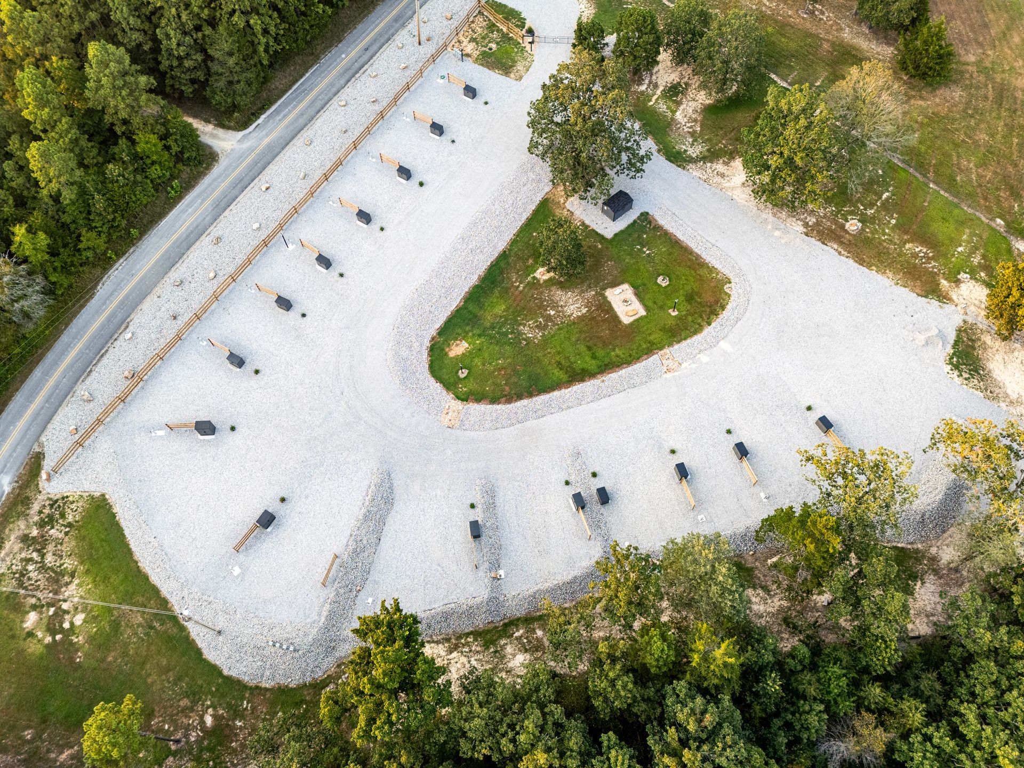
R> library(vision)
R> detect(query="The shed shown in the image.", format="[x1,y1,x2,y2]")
[603,190,634,221]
